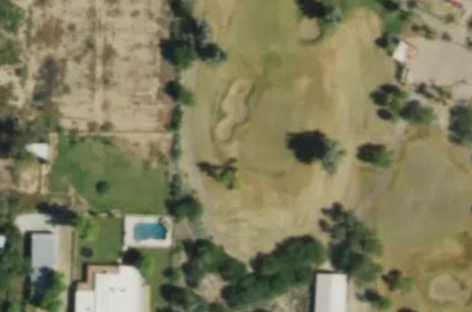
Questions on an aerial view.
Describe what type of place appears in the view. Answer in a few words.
golf course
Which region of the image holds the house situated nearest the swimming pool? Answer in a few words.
bottom left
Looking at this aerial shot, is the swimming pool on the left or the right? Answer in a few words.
left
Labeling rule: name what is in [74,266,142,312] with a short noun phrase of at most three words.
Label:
house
